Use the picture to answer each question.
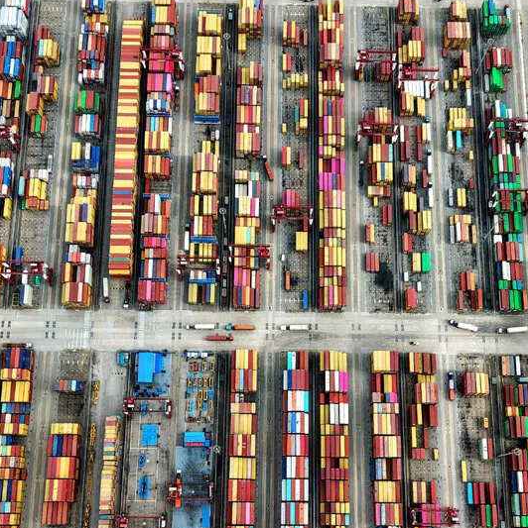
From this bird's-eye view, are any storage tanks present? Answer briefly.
No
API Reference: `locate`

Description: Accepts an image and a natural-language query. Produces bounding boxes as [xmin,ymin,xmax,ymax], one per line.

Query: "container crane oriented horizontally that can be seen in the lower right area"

[404,506,461,528]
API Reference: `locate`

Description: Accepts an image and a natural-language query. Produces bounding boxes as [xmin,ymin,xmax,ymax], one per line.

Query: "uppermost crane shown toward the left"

[140,47,187,81]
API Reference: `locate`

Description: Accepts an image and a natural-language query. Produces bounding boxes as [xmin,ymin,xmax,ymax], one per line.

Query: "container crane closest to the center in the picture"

[227,242,271,272]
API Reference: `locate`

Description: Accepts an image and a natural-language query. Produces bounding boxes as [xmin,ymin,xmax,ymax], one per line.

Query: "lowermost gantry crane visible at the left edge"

[0,258,52,288]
